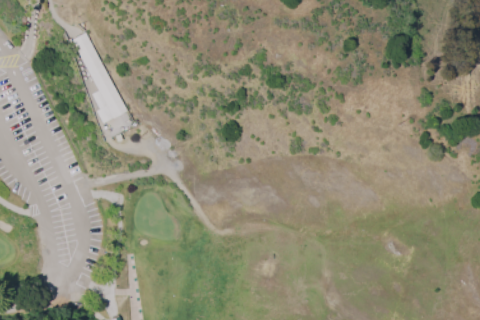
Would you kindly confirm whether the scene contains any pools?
No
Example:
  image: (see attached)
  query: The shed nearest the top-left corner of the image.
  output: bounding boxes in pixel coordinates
[74,34,128,123]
